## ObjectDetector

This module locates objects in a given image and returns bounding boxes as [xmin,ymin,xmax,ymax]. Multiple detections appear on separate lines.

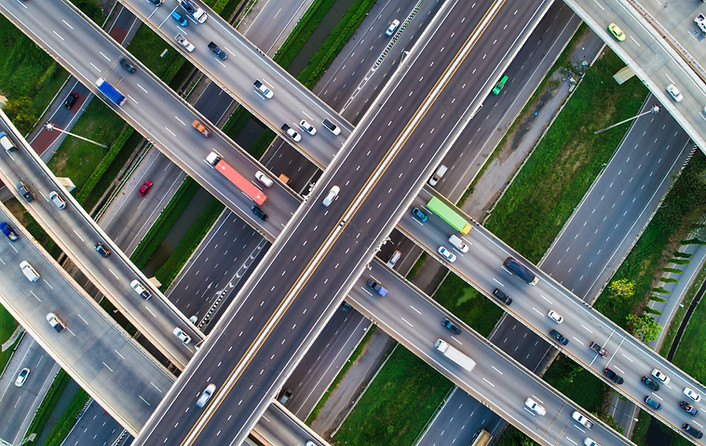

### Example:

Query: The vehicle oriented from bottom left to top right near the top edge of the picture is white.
[384,19,401,38]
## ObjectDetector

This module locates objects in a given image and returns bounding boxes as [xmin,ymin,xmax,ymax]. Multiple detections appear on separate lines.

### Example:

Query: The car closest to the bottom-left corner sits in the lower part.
[17,369,30,385]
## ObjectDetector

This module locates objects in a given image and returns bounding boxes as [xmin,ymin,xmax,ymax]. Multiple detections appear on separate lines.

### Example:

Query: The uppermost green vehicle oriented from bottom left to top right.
[492,74,510,94]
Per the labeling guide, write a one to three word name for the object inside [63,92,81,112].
car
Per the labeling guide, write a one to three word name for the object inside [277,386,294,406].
car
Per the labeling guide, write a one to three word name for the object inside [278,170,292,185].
vehicle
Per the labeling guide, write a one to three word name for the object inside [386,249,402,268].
vehicle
